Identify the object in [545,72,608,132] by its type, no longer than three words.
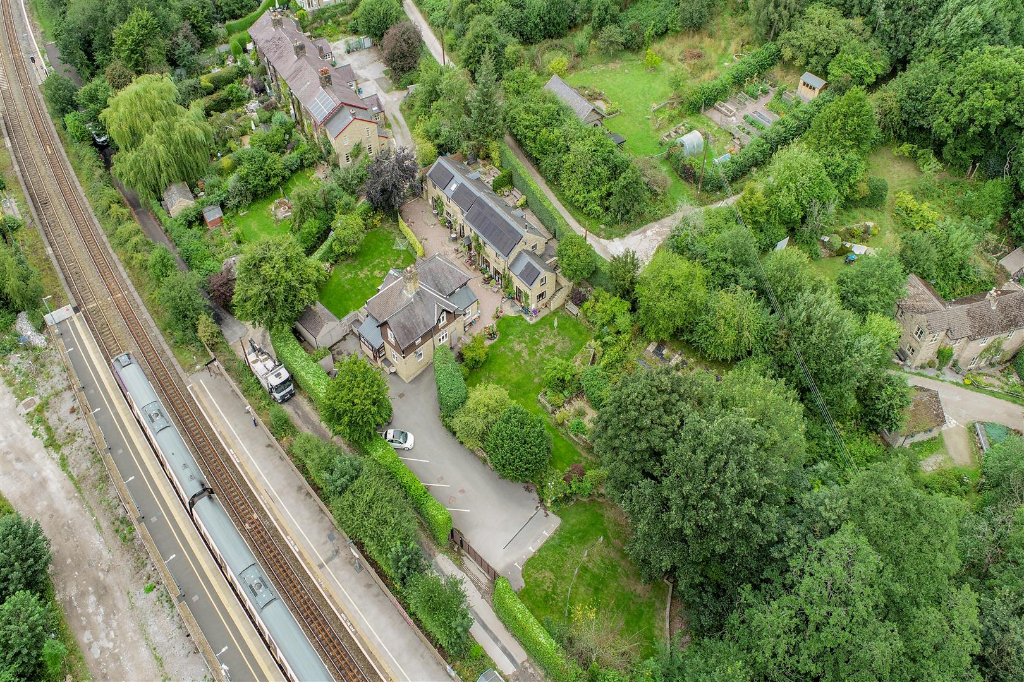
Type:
barn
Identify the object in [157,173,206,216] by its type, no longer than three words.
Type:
building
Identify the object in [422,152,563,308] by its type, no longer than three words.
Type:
house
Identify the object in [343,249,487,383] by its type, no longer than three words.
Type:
house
